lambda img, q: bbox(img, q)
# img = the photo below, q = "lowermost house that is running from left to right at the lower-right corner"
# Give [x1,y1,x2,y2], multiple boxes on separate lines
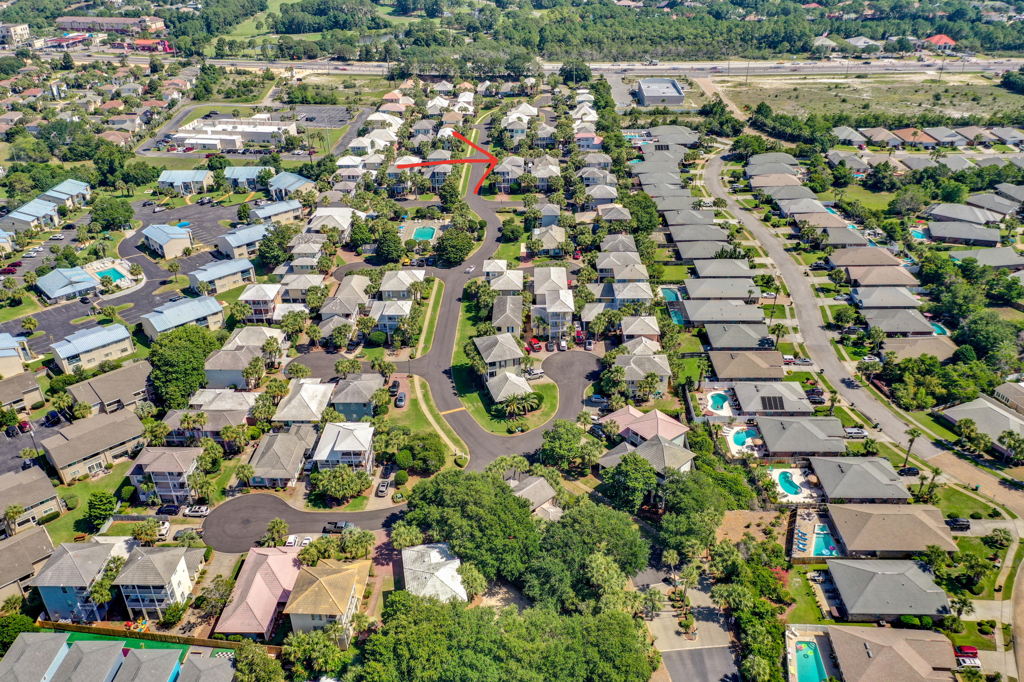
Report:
[824,625,956,682]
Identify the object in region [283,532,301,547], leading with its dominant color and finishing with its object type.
white car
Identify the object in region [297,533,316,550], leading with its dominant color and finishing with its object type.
white car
